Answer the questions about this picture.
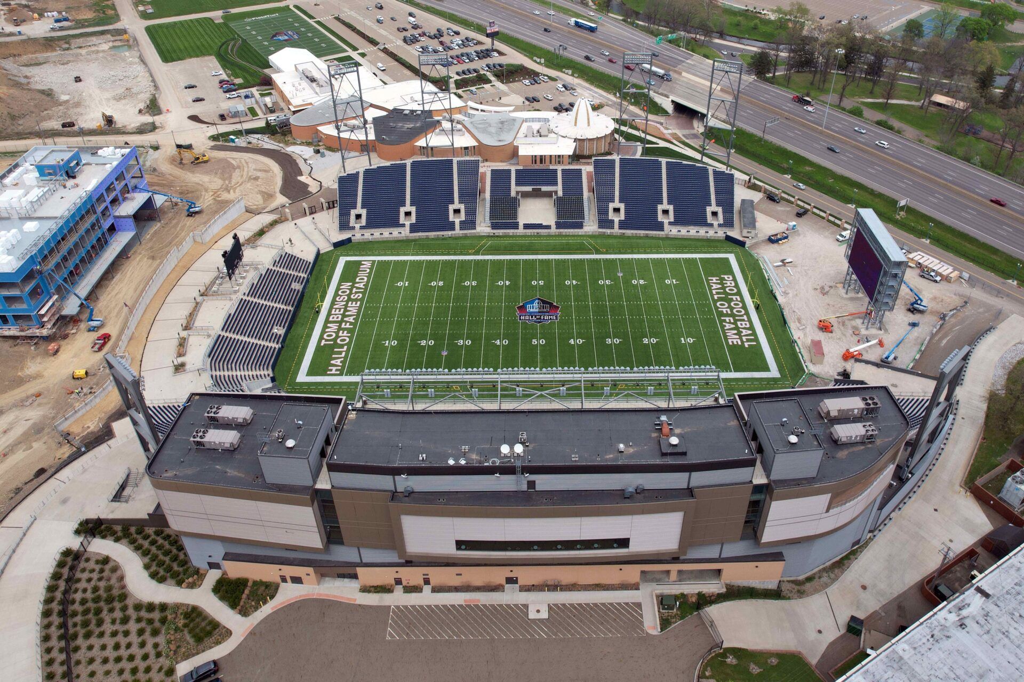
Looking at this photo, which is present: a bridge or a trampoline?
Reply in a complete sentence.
The image shows a bridge.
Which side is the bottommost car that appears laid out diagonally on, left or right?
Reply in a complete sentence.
The bottommost car that appears laid out diagonally sits on the left side.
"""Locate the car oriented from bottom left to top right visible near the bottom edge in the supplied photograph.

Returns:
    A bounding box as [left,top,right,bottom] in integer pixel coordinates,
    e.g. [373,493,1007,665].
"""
[183,657,216,682]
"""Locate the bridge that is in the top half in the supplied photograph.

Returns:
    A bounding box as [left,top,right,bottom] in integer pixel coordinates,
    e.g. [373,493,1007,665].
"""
[650,90,732,128]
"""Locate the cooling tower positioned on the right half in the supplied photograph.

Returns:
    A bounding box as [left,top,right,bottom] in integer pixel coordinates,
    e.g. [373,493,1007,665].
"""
[998,473,1024,514]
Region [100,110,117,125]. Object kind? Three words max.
work vehicle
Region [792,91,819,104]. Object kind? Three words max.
vehicle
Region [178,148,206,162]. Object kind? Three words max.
work vehicle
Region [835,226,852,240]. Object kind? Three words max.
vehicle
